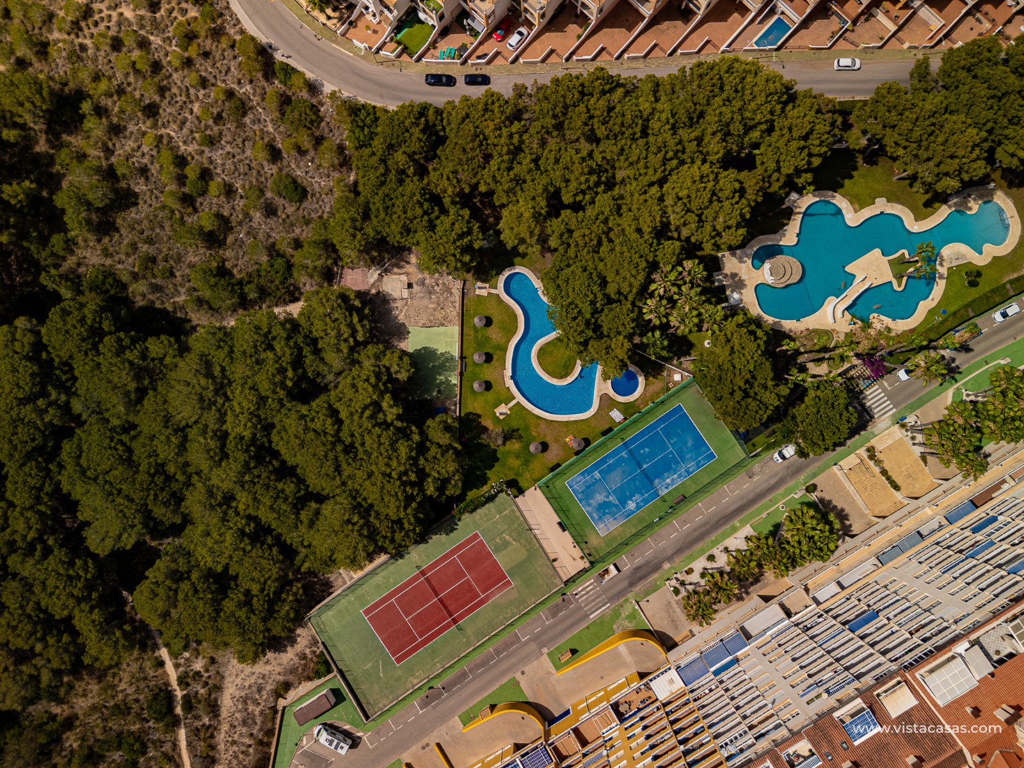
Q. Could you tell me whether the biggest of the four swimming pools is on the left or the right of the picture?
right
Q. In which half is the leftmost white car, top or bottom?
top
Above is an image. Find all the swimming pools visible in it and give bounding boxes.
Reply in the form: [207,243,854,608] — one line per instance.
[605,363,645,403]
[714,189,1021,333]
[498,266,608,421]
[752,14,793,47]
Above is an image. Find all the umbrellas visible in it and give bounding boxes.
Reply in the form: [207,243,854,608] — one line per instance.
[473,379,485,392]
[473,351,485,363]
[473,315,485,327]
[530,442,542,454]
[572,437,585,450]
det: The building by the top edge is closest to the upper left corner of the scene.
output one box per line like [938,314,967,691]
[378,0,420,28]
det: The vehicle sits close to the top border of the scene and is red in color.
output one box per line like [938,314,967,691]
[493,19,513,44]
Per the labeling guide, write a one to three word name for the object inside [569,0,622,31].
house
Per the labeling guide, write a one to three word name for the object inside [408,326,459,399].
sports court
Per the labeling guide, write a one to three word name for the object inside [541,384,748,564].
tennis court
